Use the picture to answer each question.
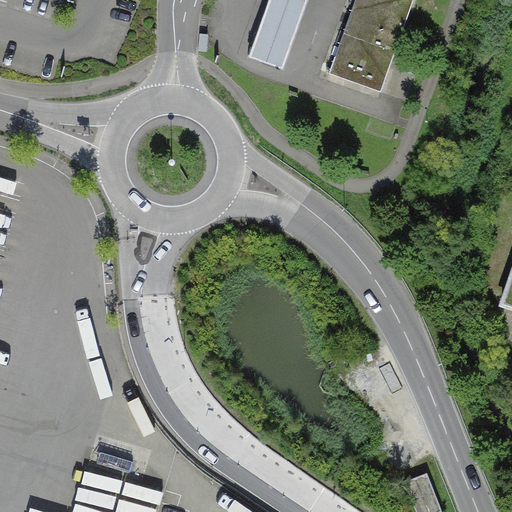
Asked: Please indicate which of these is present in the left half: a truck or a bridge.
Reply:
truck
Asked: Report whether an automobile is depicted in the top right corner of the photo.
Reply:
No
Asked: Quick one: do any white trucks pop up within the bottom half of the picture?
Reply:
Yes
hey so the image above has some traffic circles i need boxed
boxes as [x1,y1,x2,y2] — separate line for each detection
[96,84,248,236]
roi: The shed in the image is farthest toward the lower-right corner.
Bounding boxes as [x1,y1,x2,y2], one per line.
[410,474,442,512]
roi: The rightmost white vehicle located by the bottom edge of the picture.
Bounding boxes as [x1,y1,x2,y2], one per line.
[216,492,251,512]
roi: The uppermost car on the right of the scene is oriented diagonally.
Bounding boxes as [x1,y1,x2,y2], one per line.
[364,288,382,312]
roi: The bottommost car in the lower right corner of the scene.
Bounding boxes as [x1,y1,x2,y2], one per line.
[466,464,481,488]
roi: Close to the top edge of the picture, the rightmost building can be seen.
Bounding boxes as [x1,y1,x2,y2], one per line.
[330,0,420,90]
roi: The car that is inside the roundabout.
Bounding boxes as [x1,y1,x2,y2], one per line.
[129,189,151,212]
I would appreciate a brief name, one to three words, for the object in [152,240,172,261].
car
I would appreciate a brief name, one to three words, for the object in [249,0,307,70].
building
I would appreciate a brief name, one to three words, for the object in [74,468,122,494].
truck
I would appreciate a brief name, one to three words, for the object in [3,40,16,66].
vehicle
